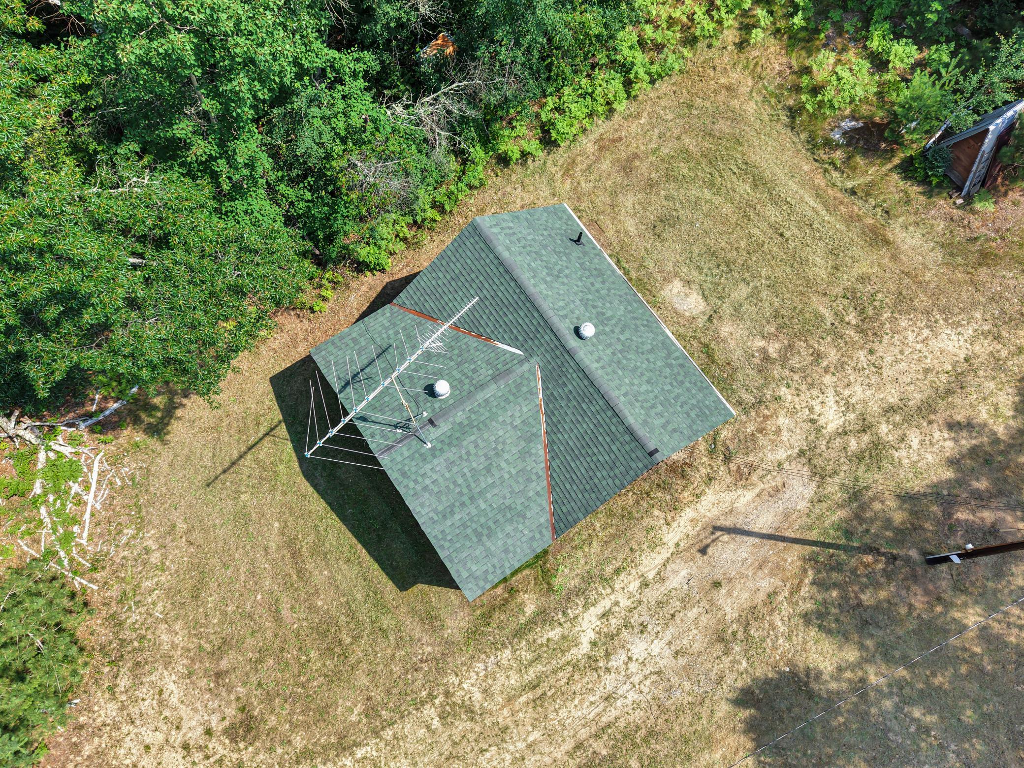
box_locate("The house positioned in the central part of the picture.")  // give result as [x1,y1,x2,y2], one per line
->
[311,201,738,601]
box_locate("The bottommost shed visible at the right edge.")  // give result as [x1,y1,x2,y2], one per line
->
[919,103,1024,199]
